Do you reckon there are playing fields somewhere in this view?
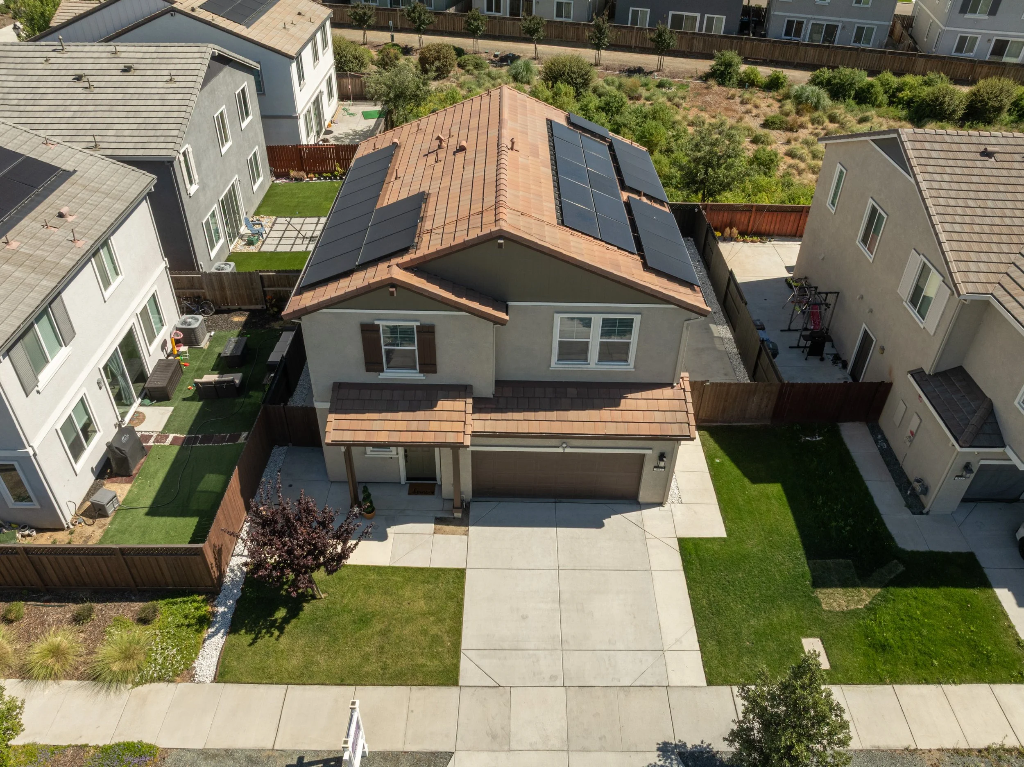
No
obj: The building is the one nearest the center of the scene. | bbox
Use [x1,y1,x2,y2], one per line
[280,83,709,515]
